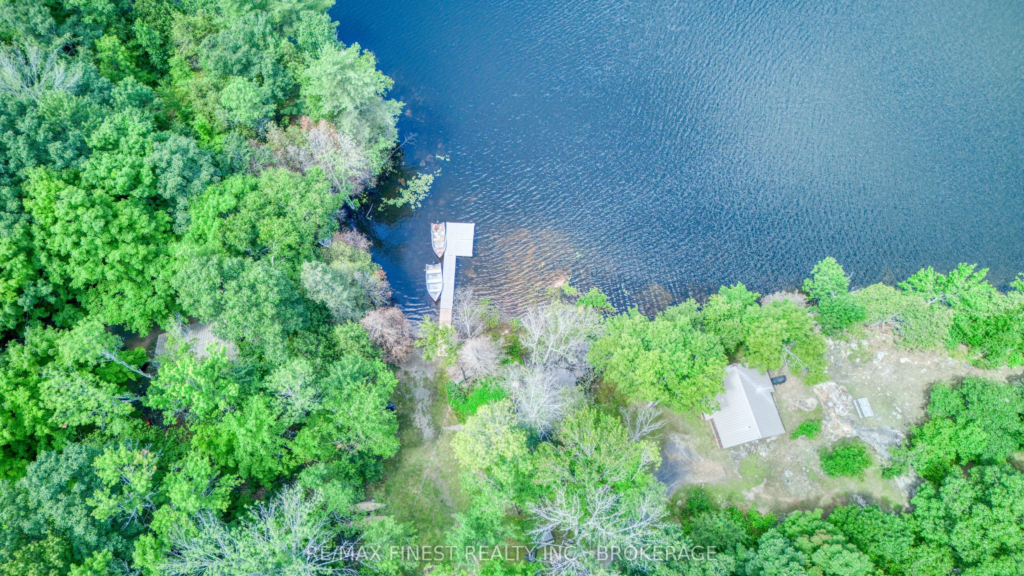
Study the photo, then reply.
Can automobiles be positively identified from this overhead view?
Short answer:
No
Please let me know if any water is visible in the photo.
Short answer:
Yes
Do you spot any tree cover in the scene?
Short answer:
Yes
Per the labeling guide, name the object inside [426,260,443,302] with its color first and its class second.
white boat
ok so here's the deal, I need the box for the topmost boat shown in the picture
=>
[431,219,446,258]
